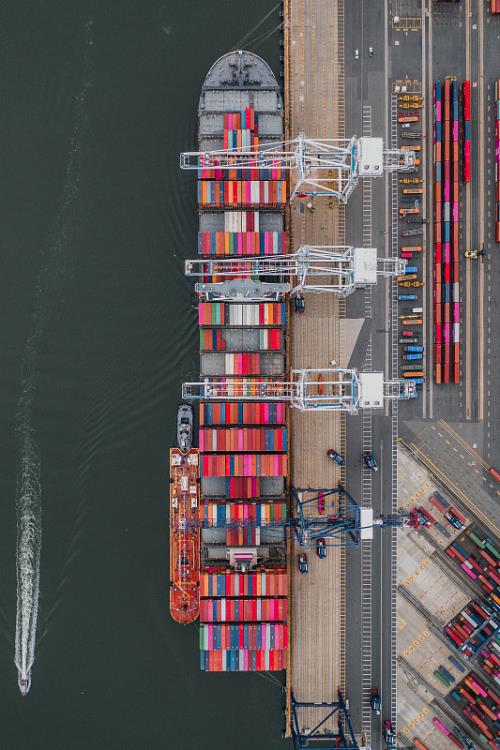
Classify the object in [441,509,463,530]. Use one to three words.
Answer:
work vehicle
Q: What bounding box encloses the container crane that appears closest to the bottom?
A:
[291,678,372,750]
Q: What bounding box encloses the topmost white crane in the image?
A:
[180,132,421,207]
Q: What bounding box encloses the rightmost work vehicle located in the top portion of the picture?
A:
[464,242,488,263]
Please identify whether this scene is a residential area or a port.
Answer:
port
